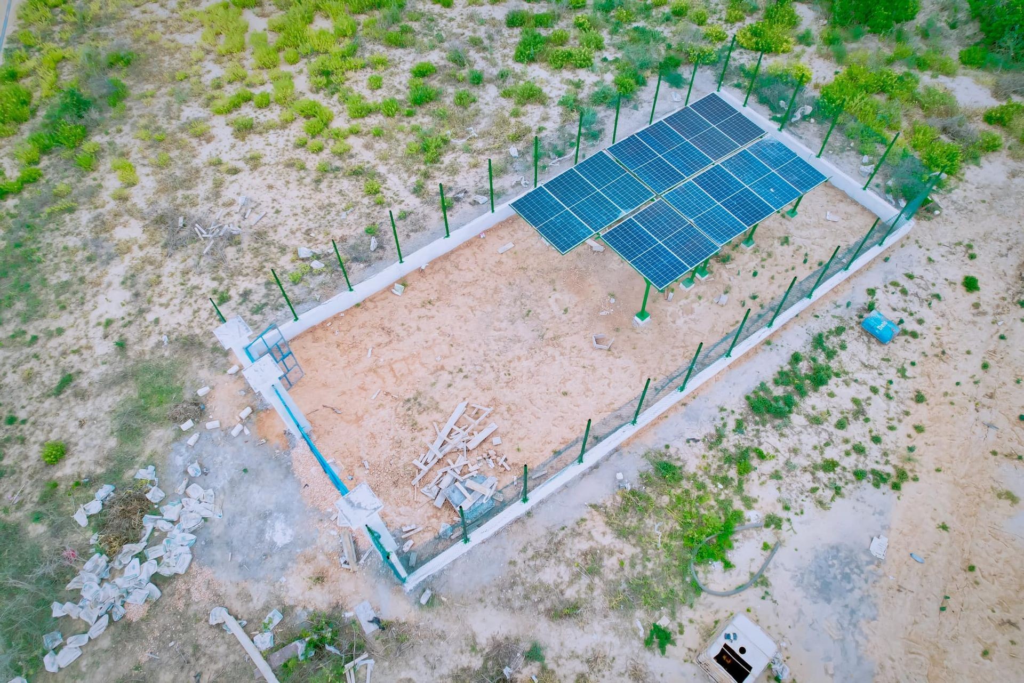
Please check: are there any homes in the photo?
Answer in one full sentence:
No, there appears to be no home in this shot.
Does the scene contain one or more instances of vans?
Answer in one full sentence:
No, I can't see a single van in this photo.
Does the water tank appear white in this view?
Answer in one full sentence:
Yes, the water tank is white.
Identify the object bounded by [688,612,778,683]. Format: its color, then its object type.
white water tank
